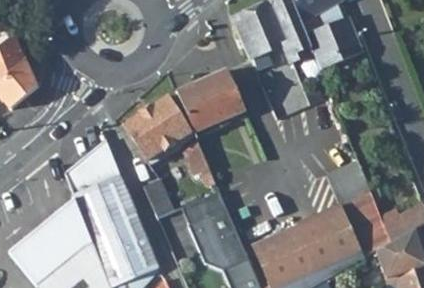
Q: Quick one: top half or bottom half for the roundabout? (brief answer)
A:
top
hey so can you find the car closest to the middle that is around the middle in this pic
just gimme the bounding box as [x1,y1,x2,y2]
[170,162,184,184]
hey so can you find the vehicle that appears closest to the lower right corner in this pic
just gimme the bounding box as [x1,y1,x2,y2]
[330,146,346,167]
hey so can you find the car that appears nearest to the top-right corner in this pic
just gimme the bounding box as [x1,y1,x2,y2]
[316,106,332,128]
